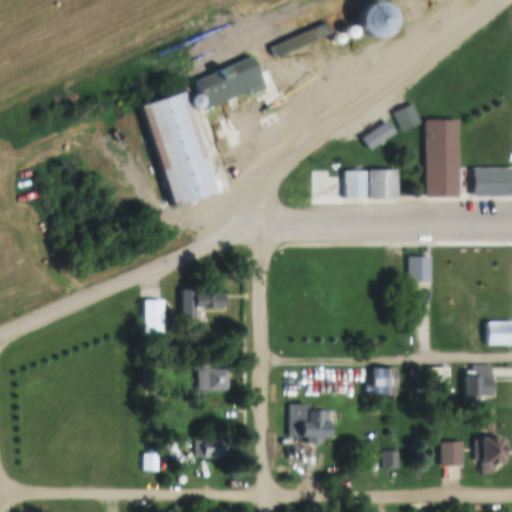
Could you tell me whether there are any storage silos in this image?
Yes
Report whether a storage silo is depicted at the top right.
Yes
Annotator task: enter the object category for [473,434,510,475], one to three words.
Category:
house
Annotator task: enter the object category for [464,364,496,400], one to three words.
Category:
house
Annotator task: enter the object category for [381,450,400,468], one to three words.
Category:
shed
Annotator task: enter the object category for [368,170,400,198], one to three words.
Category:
building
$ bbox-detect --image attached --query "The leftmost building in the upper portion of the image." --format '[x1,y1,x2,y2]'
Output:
[142,92,218,204]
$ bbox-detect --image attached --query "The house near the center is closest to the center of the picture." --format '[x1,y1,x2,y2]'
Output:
[182,289,230,321]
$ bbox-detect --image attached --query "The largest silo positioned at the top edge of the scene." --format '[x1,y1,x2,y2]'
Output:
[360,2,403,40]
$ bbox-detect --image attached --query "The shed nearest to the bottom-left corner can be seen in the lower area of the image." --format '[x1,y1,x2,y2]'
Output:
[142,451,160,472]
